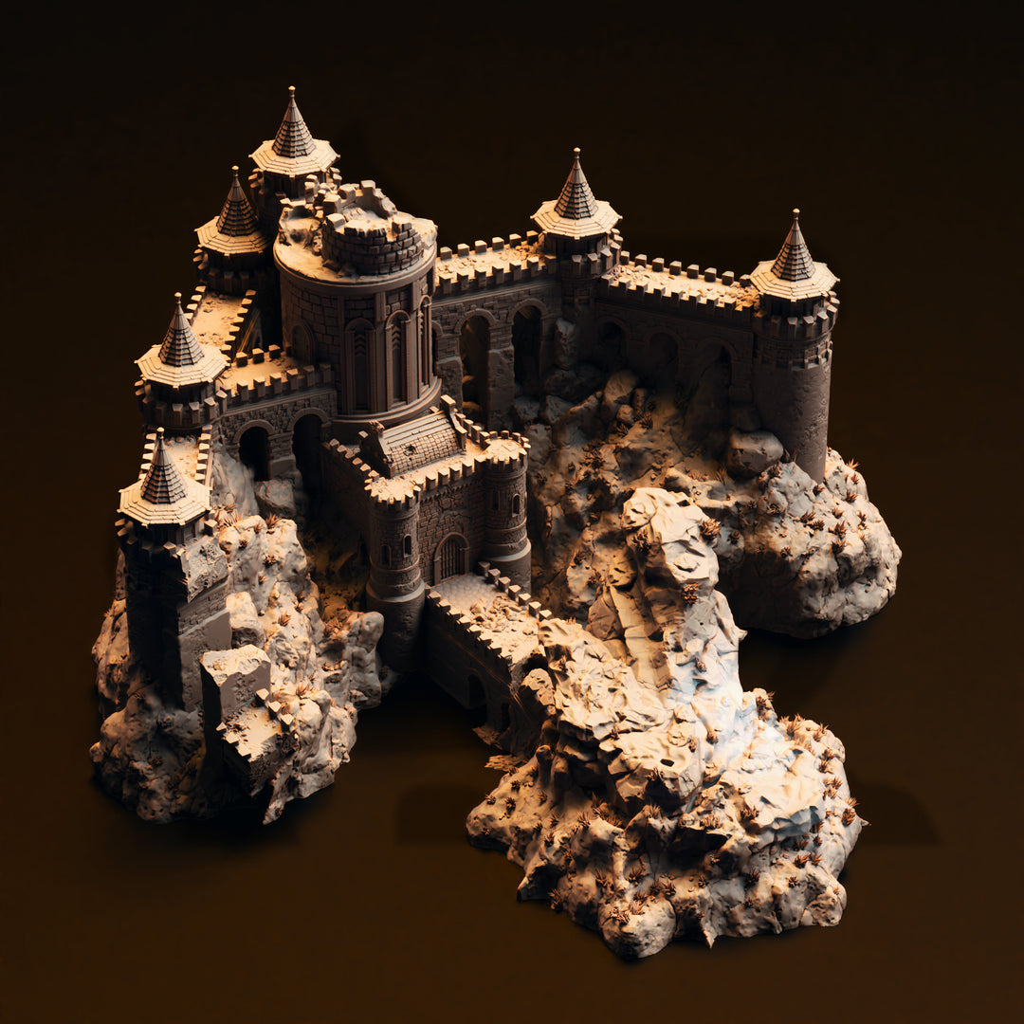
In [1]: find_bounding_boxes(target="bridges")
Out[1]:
[422,551,576,723]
